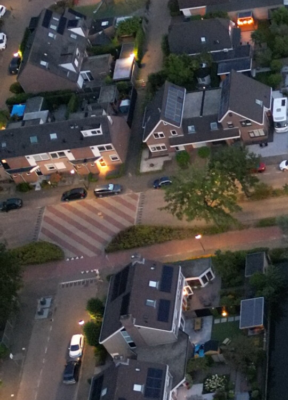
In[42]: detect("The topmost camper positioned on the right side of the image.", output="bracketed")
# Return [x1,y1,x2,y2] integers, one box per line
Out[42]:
[273,97,288,131]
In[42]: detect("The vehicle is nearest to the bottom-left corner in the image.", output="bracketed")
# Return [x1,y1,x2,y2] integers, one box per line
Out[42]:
[62,358,81,387]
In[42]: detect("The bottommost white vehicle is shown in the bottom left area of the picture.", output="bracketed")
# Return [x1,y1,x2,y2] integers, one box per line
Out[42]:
[69,334,84,360]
